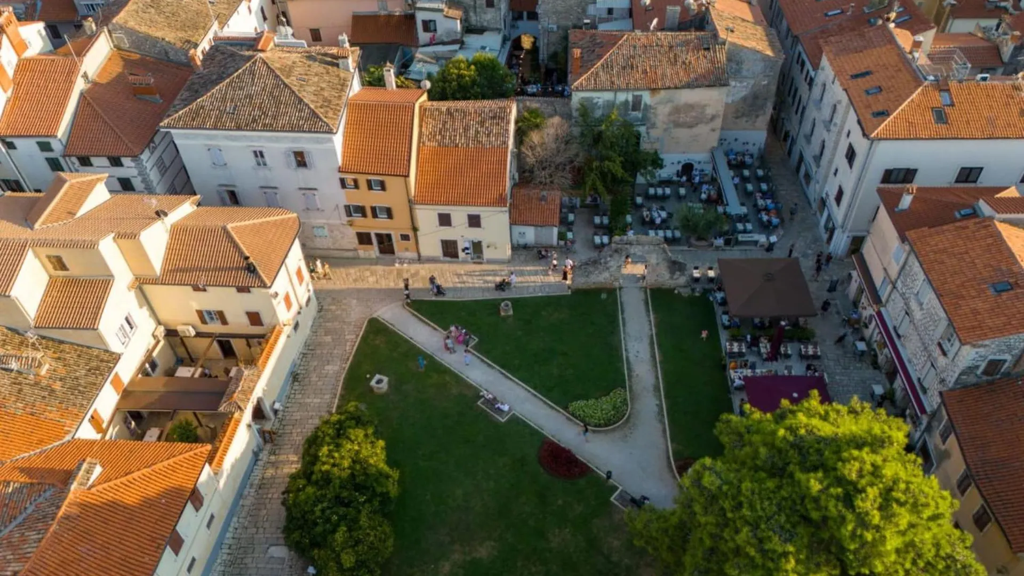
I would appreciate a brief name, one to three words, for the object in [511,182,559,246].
shed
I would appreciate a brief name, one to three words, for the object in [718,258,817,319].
umbrella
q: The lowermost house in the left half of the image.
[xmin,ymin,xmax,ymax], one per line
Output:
[0,437,233,576]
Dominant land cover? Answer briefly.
buildings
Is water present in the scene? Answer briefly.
No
